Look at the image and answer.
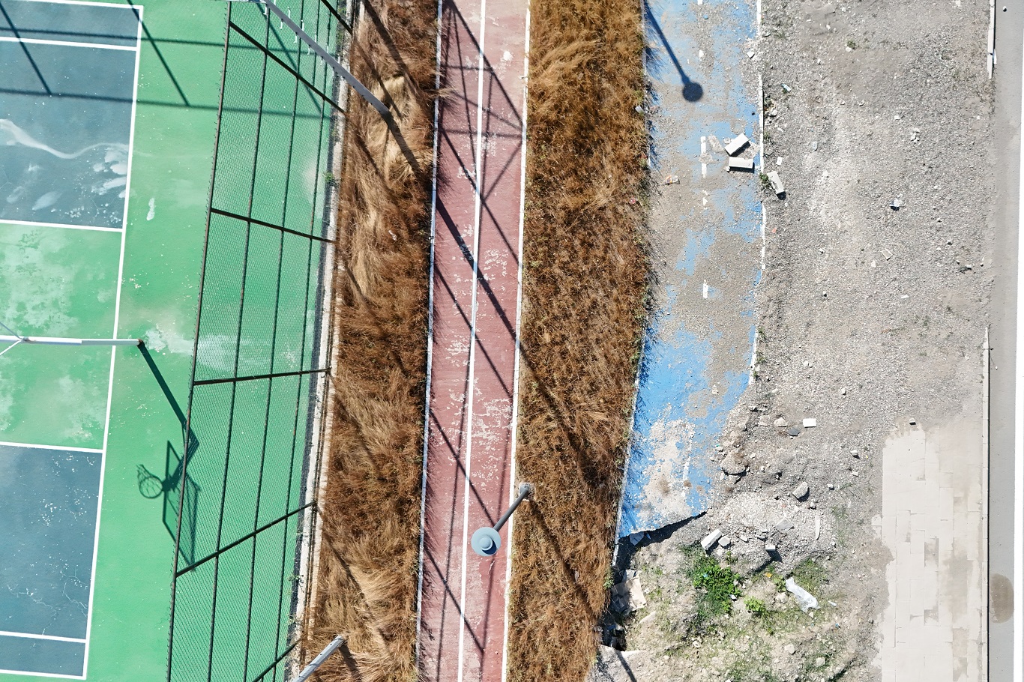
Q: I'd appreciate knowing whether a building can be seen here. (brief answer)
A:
No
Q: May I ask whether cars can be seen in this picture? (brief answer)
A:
No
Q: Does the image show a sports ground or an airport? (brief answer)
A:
sports ground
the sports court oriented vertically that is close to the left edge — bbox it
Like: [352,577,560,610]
[0,0,342,682]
